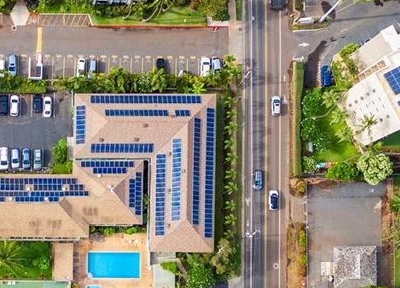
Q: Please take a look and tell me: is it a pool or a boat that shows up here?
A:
pool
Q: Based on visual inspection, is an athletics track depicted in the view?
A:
No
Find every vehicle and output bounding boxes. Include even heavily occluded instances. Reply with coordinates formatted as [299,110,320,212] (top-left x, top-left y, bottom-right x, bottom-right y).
[212,56,221,73]
[11,148,19,168]
[200,56,211,72]
[34,95,42,114]
[156,55,165,74]
[0,95,8,116]
[0,56,5,70]
[320,66,331,87]
[43,97,52,118]
[271,96,281,116]
[269,0,282,11]
[8,55,17,77]
[22,148,31,168]
[34,150,42,169]
[268,190,279,211]
[10,95,19,116]
[89,57,96,73]
[0,148,9,169]
[77,57,85,74]
[253,170,263,191]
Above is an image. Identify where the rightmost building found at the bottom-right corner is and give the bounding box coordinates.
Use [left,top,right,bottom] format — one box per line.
[329,246,377,288]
